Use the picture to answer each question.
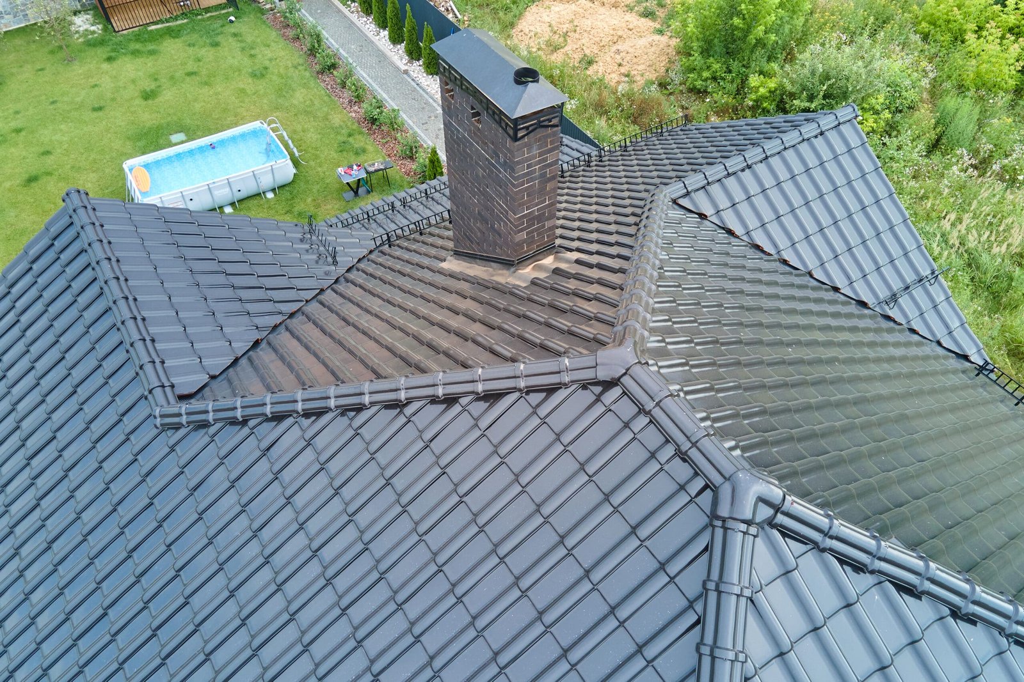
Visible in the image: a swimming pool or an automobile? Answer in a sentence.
The image shows a swimming pool.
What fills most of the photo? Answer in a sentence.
The bulk of the photo consists of buildings.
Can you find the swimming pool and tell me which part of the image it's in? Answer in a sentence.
Look in the top left portion of the view to spot the swimming pool.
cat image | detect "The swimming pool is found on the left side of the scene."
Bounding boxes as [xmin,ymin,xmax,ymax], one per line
[122,119,298,215]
